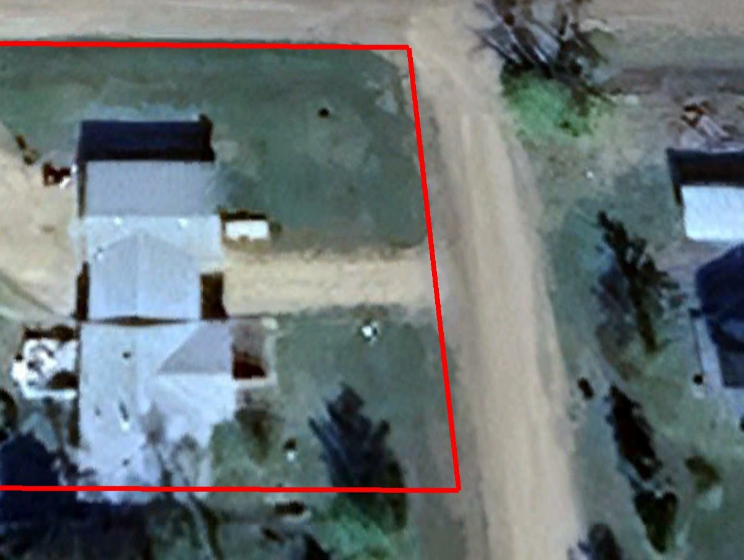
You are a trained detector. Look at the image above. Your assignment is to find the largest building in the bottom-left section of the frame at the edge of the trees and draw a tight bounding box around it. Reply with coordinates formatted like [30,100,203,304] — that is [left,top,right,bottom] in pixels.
[79,315,237,509]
